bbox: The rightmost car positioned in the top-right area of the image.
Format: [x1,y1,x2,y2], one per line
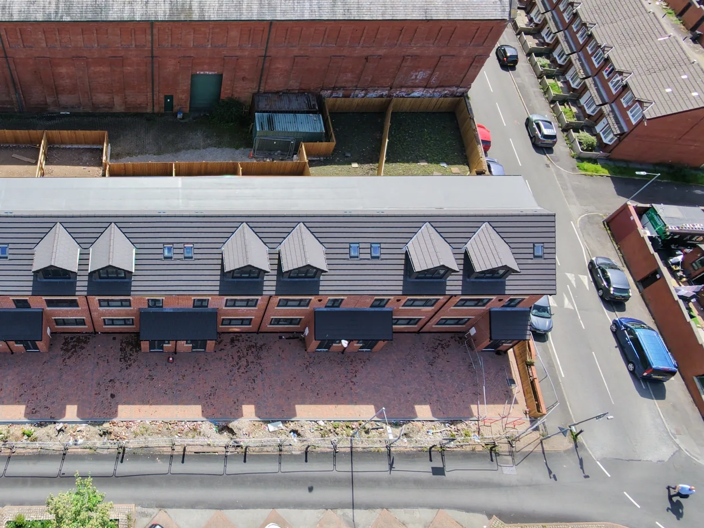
[522,113,564,152]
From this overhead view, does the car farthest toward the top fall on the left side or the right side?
right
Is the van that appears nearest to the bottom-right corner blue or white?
blue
